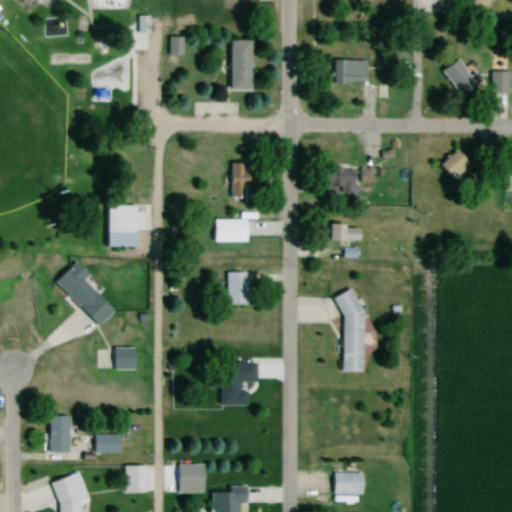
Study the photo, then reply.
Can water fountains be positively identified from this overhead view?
No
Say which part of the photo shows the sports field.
top left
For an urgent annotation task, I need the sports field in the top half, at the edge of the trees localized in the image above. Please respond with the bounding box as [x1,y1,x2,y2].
[0,26,66,212]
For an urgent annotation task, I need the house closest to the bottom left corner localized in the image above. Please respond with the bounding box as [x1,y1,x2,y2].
[50,474,88,512]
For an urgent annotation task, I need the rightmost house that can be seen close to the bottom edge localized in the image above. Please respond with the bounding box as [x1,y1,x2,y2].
[335,472,366,505]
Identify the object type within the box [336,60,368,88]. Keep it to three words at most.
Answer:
house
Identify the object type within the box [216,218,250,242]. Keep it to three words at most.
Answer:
barn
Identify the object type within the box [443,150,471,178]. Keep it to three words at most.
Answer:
house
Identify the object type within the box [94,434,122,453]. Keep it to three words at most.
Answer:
building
